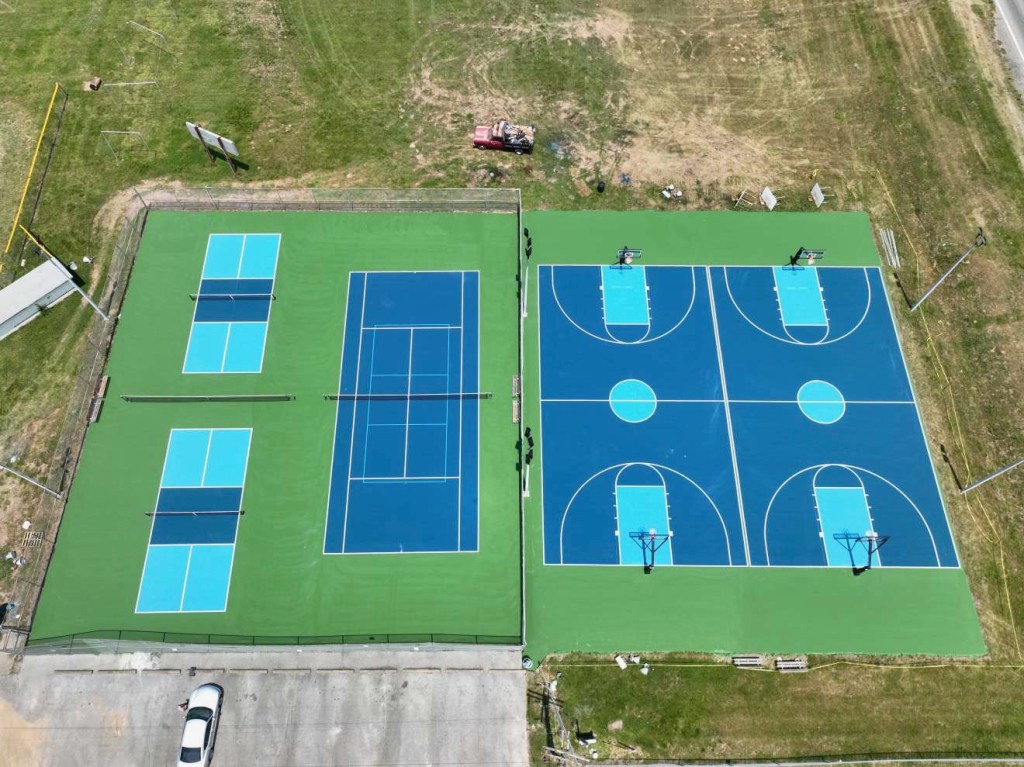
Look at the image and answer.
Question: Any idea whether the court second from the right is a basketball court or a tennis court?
basketball court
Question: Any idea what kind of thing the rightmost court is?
basketball court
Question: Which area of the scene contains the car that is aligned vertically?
bottom left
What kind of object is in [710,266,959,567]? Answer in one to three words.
basketball court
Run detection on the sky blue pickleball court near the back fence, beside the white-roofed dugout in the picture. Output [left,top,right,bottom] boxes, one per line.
[183,234,281,373]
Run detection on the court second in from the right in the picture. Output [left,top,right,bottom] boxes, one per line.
[537,265,751,566]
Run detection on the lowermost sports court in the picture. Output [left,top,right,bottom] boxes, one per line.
[135,428,252,613]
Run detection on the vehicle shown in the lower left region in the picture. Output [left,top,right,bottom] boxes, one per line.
[178,684,224,767]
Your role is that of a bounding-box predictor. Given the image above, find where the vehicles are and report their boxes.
[473,123,537,155]
[178,684,224,767]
